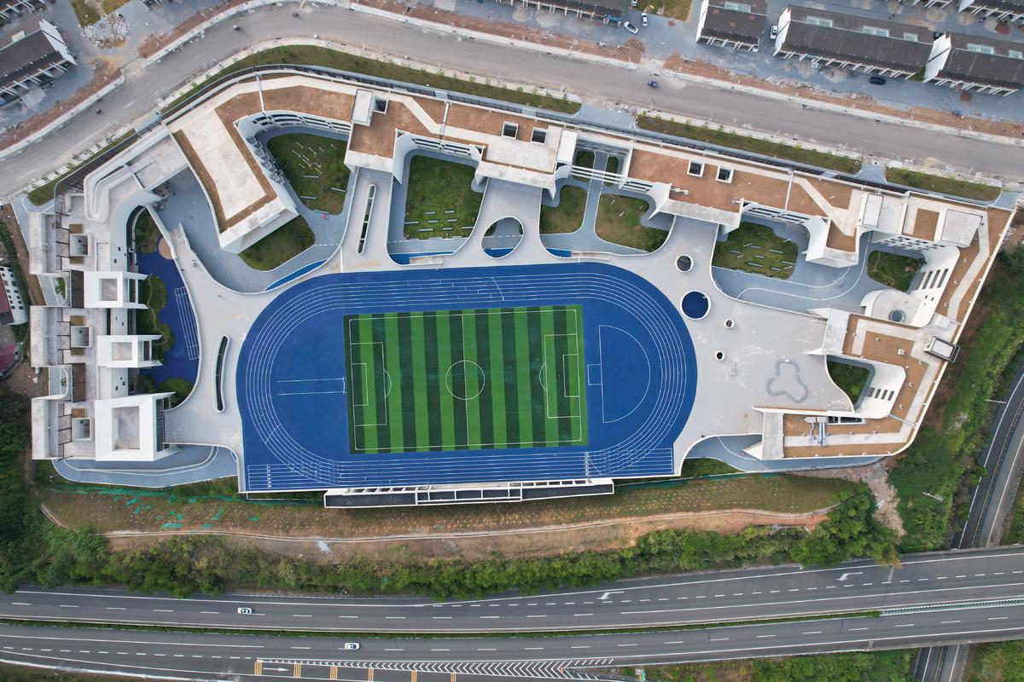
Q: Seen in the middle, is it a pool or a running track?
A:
running track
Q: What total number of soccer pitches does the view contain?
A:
1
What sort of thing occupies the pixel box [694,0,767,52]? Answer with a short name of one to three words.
house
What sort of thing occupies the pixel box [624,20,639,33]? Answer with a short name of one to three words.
vehicle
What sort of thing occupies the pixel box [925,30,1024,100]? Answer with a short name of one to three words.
house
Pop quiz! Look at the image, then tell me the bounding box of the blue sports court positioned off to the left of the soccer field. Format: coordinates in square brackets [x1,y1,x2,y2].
[130,251,199,387]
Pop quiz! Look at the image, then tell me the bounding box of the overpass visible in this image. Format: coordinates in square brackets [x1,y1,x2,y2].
[867,540,1024,652]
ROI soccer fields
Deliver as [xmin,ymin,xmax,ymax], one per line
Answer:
[344,305,587,454]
